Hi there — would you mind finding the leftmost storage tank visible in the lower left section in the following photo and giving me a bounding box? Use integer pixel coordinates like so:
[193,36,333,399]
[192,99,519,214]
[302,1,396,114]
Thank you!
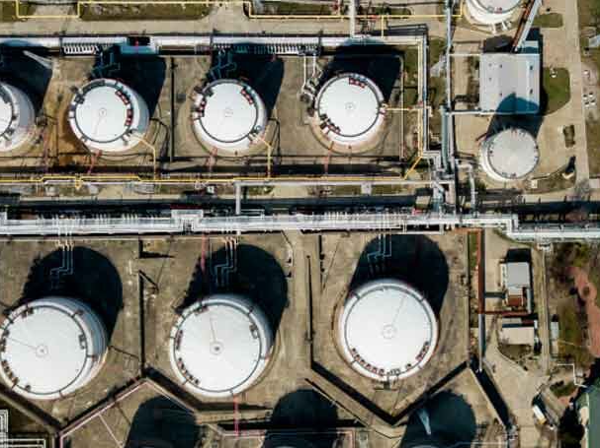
[0,292,111,402]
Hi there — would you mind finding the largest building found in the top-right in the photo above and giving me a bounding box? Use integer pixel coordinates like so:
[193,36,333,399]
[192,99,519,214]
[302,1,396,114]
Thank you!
[479,54,539,112]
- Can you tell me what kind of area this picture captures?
industrial area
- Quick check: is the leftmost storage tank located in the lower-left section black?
No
